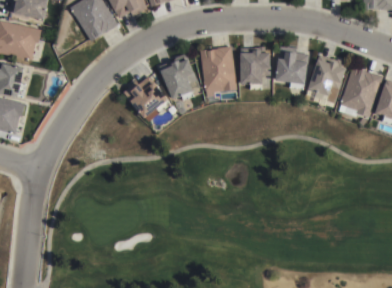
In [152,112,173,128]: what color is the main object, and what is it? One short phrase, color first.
blue swimming pool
